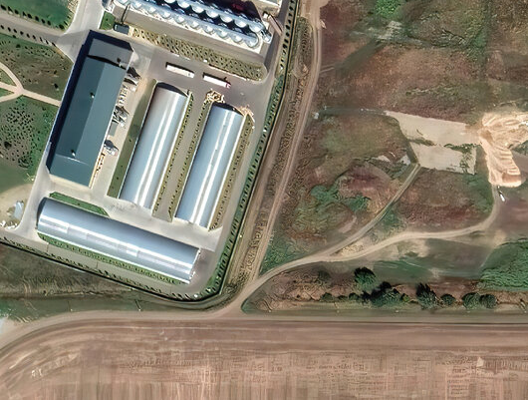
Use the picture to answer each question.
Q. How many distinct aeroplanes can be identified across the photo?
none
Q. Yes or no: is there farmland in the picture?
Yes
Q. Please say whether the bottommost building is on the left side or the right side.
left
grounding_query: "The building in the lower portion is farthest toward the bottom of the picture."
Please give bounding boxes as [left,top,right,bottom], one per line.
[35,199,201,284]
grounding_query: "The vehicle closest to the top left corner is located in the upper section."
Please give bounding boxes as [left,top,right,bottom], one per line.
[164,64,194,78]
